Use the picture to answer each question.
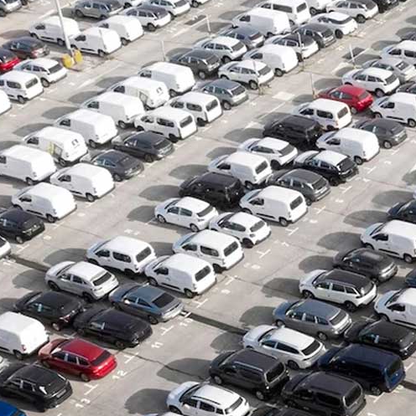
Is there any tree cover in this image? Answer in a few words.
No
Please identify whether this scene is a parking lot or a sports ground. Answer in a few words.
parking lot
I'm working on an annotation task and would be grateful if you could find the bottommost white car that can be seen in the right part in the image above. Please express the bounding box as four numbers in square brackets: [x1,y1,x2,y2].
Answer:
[231,321,318,367]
